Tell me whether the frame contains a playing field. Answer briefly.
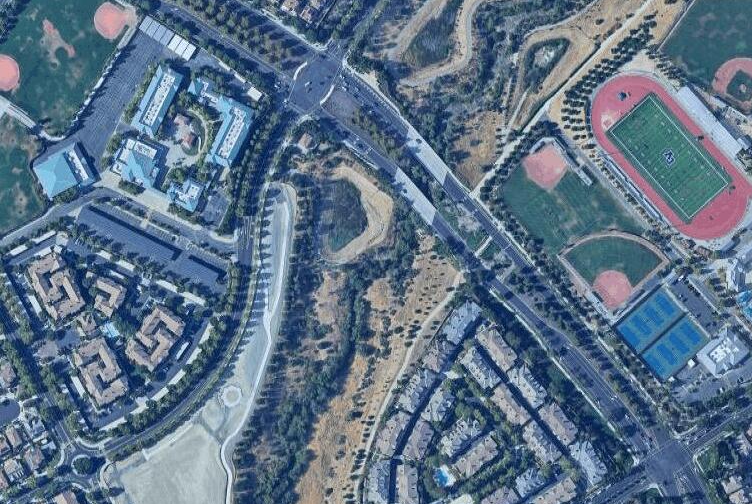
Yes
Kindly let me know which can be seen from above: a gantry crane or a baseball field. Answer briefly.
baseball field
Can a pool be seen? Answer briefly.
Yes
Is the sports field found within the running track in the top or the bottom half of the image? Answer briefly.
top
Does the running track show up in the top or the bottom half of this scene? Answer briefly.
top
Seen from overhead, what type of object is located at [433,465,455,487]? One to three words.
swimming pool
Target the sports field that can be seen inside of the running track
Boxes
[607,93,732,223]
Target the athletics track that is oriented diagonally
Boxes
[592,76,752,239]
